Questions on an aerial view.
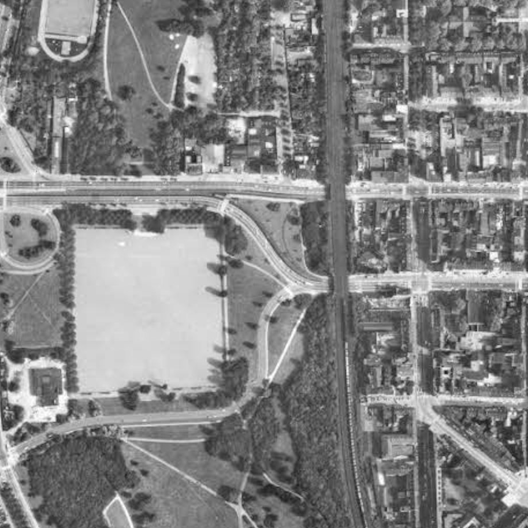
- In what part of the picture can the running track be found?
top left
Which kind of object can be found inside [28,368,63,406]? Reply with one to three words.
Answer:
building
